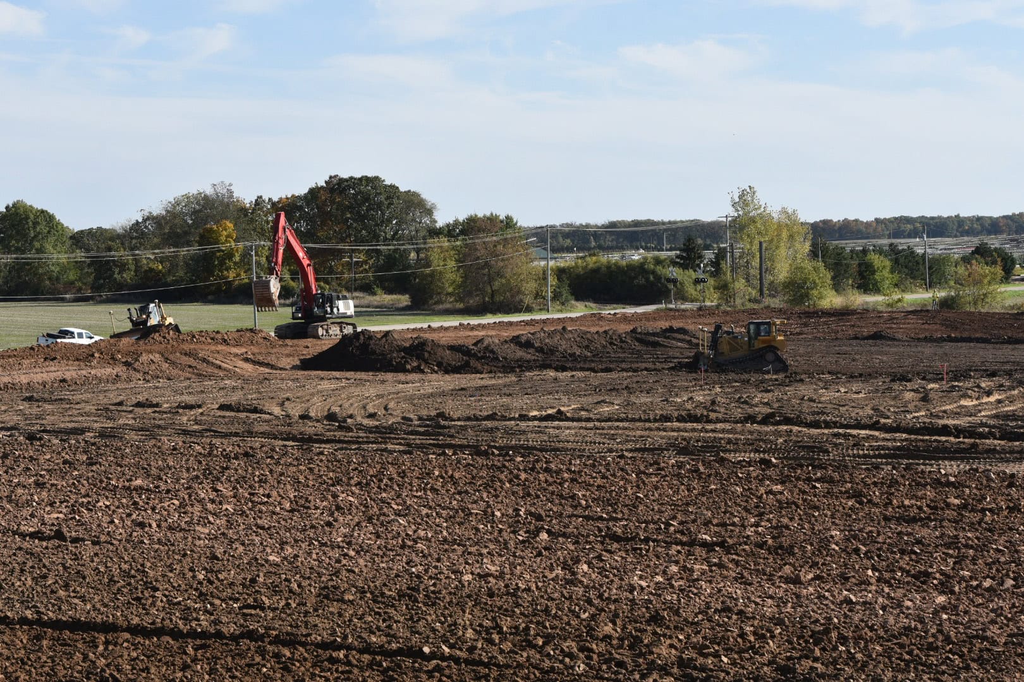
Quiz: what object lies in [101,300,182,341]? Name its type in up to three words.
work vehicle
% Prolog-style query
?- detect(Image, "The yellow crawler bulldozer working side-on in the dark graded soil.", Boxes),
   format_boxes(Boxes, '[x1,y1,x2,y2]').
[694,320,792,371]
